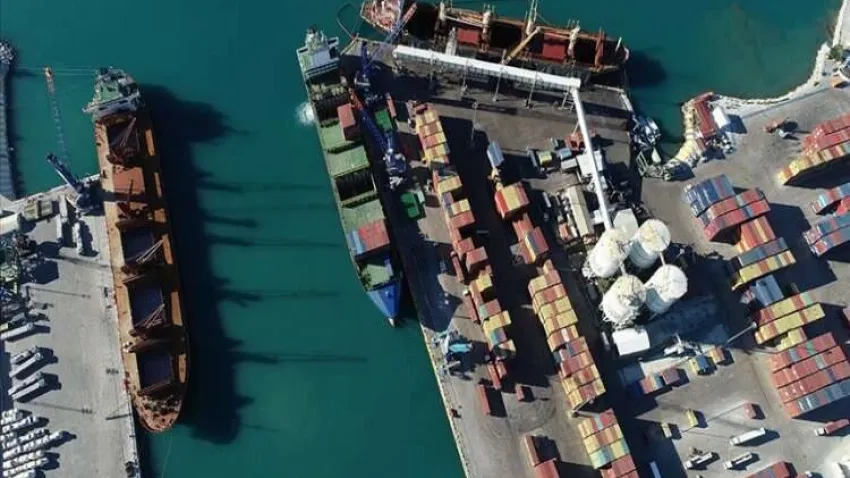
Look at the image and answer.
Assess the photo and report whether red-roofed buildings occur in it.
Yes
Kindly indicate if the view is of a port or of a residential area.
port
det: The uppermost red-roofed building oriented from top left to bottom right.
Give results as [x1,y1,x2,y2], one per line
[681,102,717,141]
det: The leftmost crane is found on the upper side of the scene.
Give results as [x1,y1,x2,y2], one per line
[45,69,102,222]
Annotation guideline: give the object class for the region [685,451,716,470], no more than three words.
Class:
vehicle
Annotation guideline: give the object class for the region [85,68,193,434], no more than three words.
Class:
ship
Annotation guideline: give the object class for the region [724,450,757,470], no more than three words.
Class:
vehicle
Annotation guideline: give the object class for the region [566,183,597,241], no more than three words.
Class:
building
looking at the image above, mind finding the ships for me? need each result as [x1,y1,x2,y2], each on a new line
[353,0,633,79]
[85,68,193,434]
[299,27,404,327]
